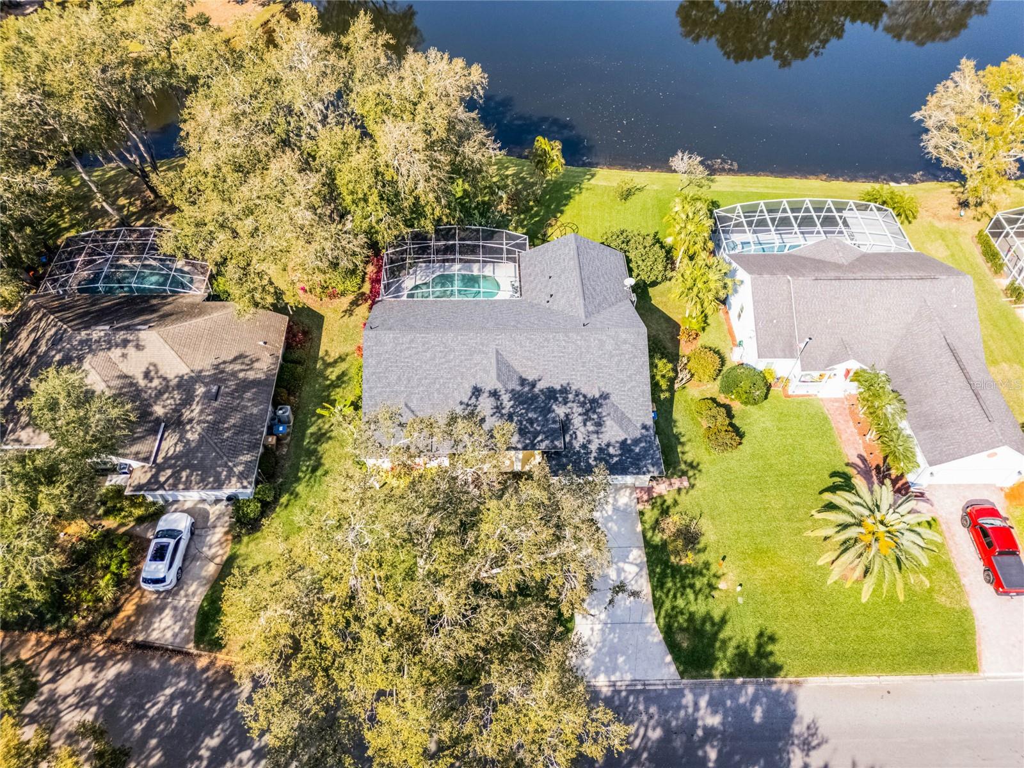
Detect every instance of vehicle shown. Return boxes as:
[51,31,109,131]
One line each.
[137,506,199,588]
[968,499,1024,600]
